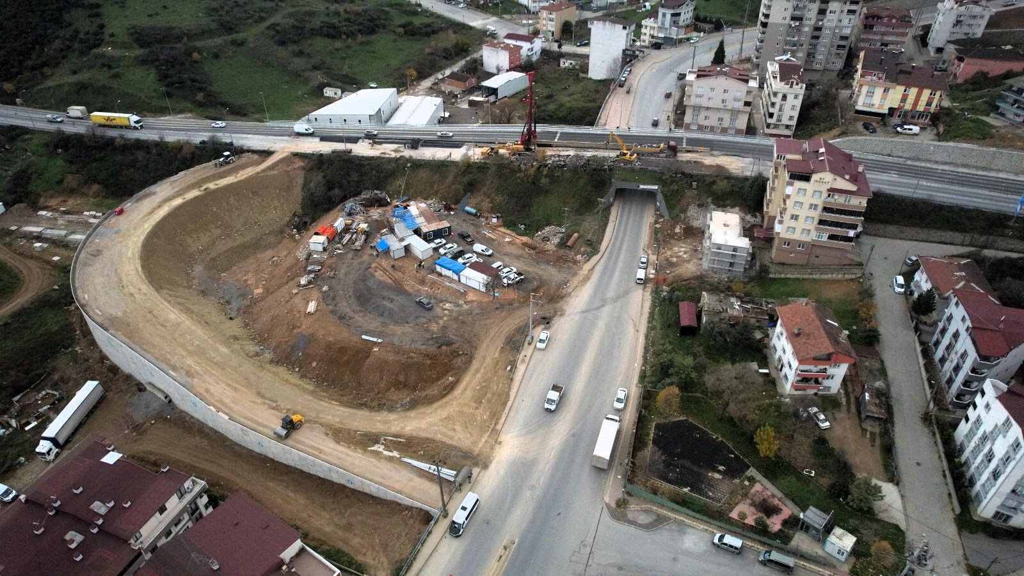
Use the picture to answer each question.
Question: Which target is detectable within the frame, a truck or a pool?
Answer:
truck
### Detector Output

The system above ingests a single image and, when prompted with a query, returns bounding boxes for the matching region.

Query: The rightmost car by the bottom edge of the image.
[758,549,795,573]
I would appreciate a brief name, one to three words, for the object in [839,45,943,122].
building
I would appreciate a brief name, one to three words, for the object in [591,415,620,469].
truck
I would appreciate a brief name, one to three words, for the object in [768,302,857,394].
house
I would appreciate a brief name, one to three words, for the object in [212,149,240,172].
work vehicle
